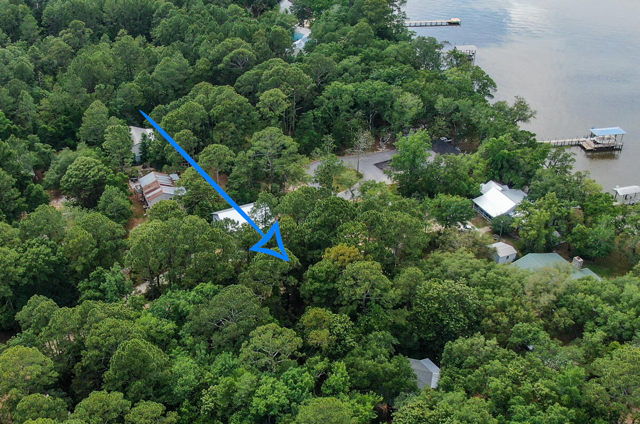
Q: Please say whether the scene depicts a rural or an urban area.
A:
rural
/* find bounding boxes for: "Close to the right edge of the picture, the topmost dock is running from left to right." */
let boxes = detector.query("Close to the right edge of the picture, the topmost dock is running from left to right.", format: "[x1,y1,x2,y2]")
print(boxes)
[542,137,624,153]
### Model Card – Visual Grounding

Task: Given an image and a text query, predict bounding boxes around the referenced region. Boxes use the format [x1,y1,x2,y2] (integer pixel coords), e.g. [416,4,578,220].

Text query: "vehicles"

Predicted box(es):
[438,136,454,142]
[459,222,477,230]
